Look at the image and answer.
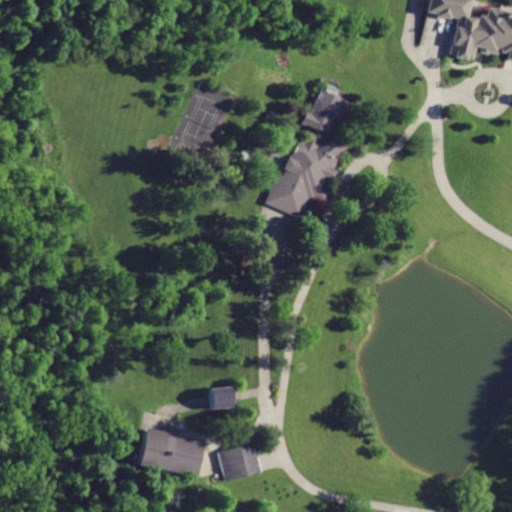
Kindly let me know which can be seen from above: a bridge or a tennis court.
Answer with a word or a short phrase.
tennis court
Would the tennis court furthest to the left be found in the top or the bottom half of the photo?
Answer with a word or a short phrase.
top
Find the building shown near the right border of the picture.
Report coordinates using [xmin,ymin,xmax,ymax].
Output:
[430,0,512,62]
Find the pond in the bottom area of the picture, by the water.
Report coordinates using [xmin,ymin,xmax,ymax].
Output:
[358,255,512,480]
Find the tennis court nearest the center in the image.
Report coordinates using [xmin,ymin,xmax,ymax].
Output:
[170,91,236,150]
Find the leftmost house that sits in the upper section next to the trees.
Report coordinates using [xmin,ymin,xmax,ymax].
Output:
[264,84,348,217]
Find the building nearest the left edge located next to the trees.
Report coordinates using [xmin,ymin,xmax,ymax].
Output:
[142,429,206,475]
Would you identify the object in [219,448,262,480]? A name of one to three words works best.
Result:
building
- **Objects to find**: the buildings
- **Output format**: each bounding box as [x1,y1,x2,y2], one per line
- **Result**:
[430,0,512,62]
[208,386,234,410]
[142,429,206,475]
[219,448,262,480]
[264,84,348,217]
